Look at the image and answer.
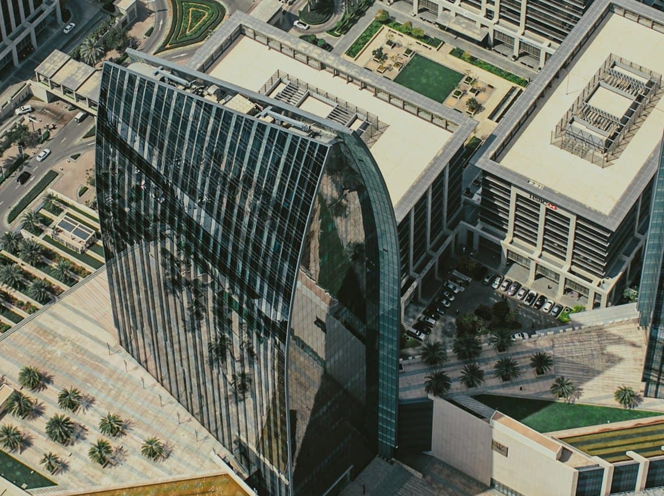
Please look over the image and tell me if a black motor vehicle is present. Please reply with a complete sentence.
Yes, I can see a black motor vehicle in this picture.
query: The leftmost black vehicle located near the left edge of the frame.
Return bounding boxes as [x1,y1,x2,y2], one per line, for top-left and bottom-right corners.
[15,169,32,186]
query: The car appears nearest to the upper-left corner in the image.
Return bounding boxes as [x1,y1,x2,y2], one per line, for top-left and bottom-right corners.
[62,21,76,35]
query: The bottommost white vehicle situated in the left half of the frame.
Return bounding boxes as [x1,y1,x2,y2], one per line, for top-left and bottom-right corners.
[35,148,51,163]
